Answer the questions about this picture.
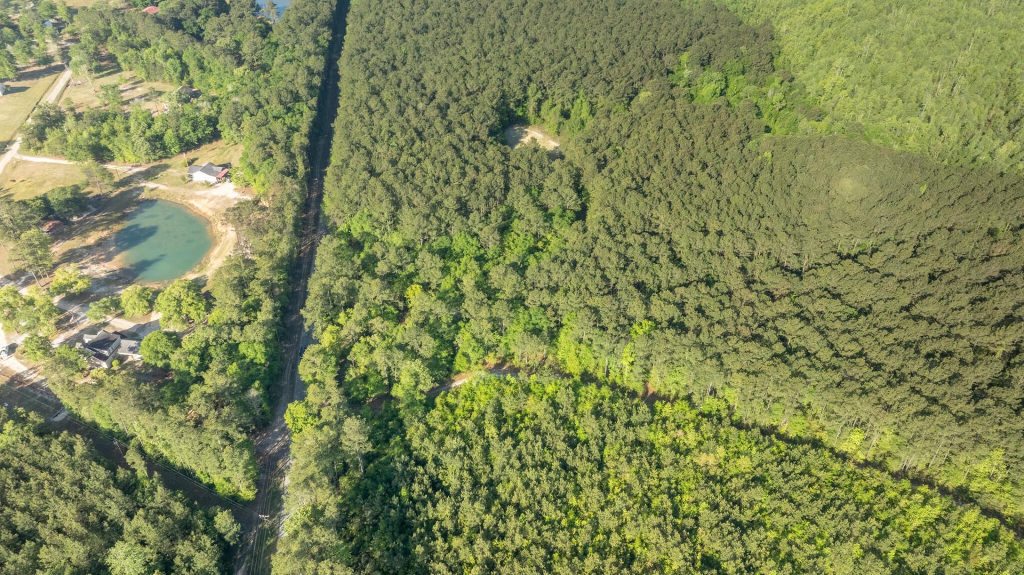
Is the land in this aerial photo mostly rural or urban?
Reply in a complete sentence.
It looks rural.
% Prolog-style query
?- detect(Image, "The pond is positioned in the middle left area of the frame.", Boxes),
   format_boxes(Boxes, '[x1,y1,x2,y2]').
[115,199,215,284]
